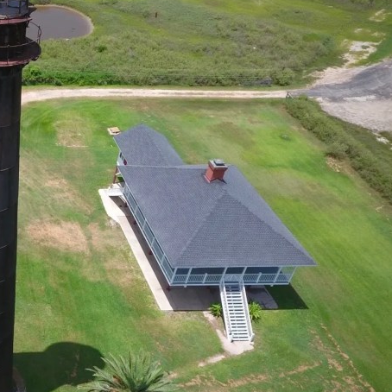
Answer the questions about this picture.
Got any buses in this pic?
No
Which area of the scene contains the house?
center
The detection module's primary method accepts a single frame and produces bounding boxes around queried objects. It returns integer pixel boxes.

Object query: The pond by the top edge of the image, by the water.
[0,4,95,41]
